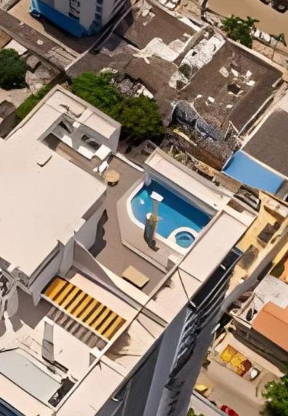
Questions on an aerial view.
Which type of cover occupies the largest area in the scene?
buildings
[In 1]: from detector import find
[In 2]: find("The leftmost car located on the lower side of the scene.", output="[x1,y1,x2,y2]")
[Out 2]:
[192,380,210,397]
